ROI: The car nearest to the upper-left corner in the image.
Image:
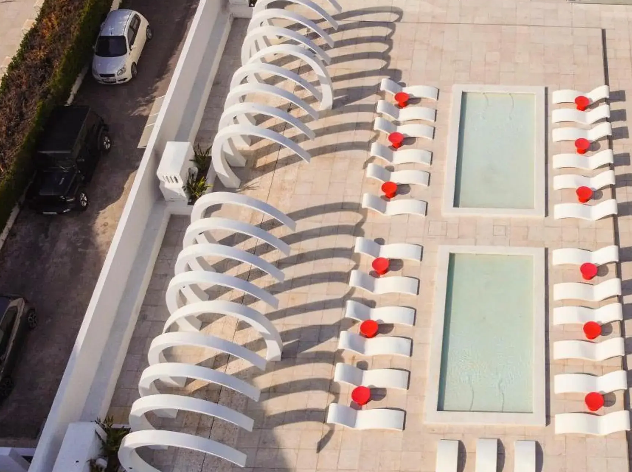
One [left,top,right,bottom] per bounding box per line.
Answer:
[90,10,151,83]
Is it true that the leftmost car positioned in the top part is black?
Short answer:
Yes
